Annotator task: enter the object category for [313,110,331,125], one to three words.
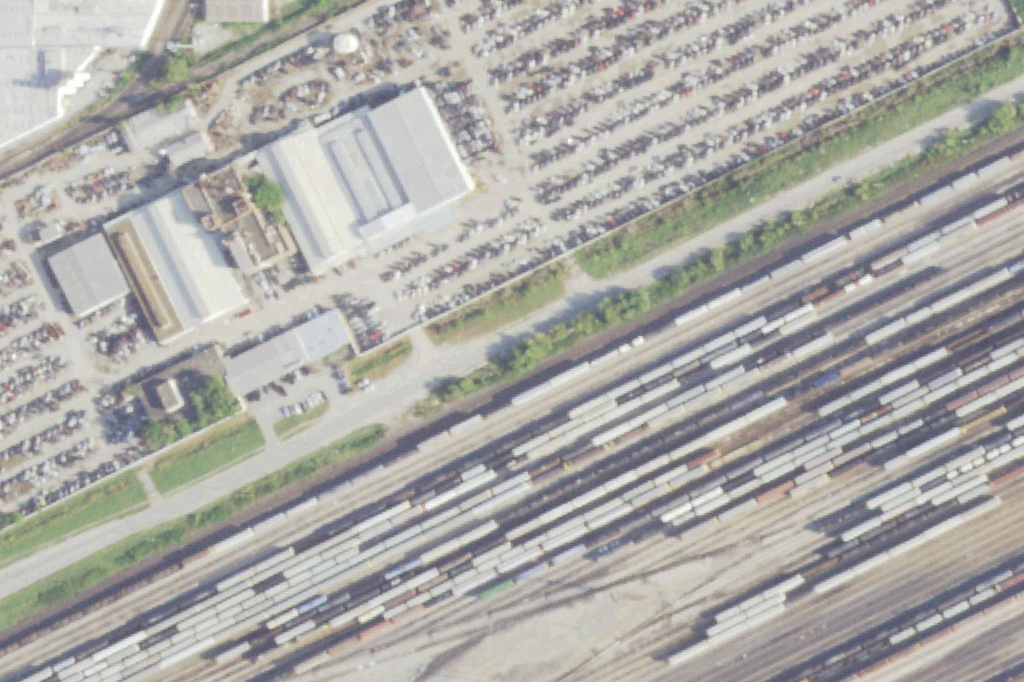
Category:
vehicle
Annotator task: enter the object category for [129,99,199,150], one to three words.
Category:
building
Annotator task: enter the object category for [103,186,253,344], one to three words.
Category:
building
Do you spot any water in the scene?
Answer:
No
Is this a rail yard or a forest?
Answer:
rail yard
